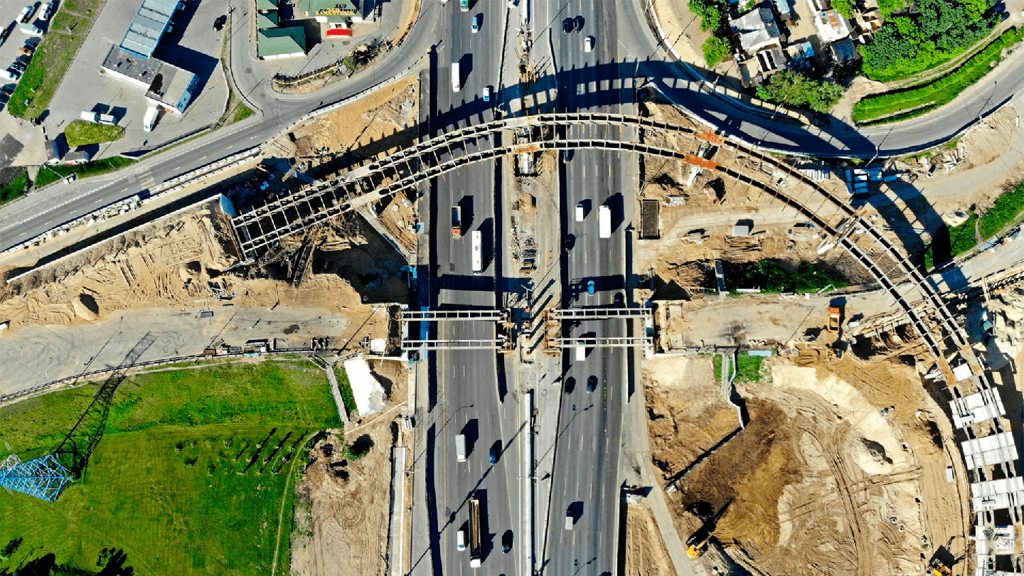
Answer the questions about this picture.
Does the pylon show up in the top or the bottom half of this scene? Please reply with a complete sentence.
It is in the bottom half that the pylon appears.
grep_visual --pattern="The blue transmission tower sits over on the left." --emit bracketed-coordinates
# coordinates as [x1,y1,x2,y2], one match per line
[0,449,83,507]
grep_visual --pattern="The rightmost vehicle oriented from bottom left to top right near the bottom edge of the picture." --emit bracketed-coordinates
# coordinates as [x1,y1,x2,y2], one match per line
[685,532,717,565]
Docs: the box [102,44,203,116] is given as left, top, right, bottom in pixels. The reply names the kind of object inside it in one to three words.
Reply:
building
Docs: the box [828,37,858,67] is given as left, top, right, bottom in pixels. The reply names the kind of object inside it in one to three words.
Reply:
house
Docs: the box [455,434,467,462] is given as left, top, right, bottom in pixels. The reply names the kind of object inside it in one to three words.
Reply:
vehicle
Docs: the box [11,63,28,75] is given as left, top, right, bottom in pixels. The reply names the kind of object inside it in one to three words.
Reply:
vehicle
